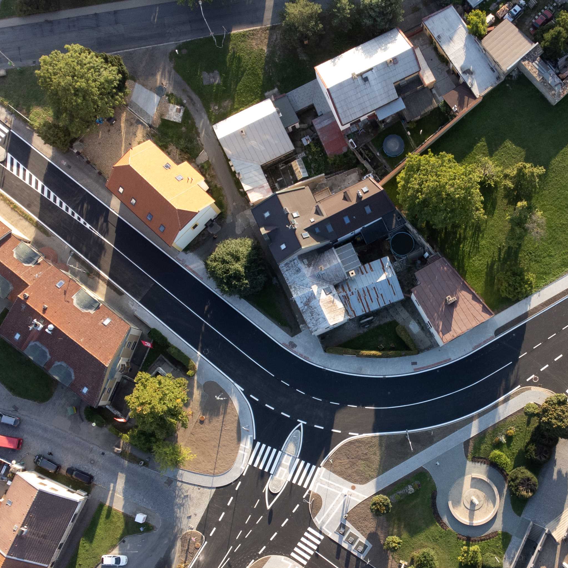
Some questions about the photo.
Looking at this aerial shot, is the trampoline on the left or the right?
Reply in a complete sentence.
You can find the trampoline on the right side of the picture.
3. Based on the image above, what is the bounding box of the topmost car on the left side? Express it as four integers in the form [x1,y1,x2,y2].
[0,411,21,426]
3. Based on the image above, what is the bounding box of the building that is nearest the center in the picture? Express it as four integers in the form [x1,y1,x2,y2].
[279,247,349,335]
